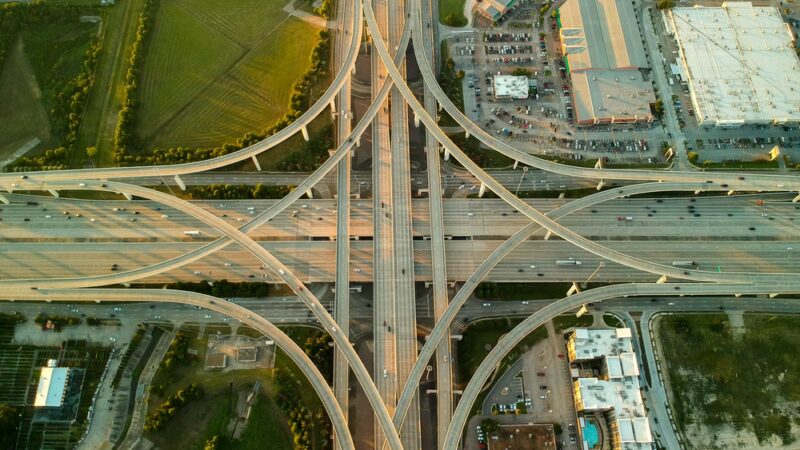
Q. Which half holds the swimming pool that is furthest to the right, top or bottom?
bottom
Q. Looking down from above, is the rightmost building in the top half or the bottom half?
top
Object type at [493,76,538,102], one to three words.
building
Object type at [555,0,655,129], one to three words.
building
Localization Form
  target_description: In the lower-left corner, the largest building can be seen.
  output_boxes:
[34,366,74,408]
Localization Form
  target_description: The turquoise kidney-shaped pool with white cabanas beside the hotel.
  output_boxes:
[576,413,612,450]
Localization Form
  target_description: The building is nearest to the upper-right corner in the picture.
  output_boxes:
[659,2,800,133]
